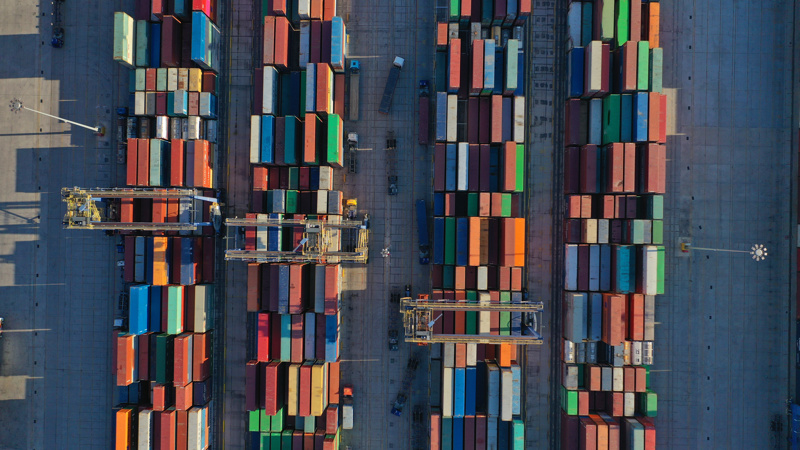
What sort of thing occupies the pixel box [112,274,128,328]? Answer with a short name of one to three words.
vehicle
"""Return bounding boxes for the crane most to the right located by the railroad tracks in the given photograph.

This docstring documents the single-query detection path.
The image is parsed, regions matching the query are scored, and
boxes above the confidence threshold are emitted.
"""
[396,280,544,348]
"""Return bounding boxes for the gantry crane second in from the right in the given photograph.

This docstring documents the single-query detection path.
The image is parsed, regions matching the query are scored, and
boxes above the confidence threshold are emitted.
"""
[223,207,374,266]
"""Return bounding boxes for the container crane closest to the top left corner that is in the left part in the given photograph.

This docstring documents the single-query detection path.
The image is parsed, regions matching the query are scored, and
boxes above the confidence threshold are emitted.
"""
[56,184,227,240]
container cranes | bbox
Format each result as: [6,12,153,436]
[223,207,374,266]
[396,280,544,348]
[56,184,227,240]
